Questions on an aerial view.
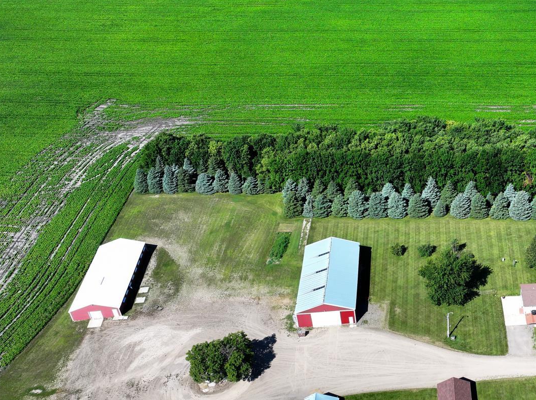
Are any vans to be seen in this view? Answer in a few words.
No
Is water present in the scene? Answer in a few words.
No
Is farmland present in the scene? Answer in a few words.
Yes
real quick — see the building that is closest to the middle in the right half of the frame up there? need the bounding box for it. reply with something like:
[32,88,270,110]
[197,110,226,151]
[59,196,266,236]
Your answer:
[295,234,361,328]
